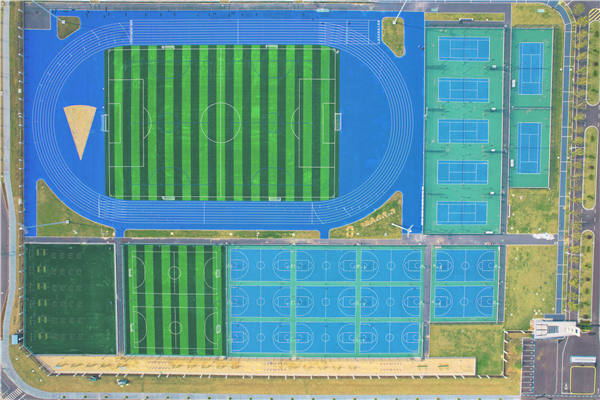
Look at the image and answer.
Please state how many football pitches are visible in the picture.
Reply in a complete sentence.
In total, 3 football pitches can be seen.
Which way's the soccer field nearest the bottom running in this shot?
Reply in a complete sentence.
I'd say the soccer field nearest the bottom is aligned from side to side in the picture.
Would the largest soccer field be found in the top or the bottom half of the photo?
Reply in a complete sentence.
You can find the largest soccer field in the top half.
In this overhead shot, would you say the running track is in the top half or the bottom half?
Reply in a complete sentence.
Seen from above, the running track lies in the top half of the view.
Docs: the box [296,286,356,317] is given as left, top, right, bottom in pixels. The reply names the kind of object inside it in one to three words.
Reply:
basketball court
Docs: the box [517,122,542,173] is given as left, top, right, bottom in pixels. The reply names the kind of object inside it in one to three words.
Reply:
tennis court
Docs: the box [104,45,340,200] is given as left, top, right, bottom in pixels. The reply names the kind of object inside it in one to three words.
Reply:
soccer field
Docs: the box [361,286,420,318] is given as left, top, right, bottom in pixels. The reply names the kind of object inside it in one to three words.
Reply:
basketball court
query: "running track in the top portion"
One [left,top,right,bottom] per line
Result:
[24,9,425,238]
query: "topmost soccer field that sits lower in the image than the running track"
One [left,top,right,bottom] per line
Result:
[130,249,220,297]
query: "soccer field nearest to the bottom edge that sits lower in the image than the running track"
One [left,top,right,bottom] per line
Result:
[131,303,220,351]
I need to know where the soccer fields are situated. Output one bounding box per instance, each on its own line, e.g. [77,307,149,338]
[131,303,220,351]
[104,45,340,200]
[130,249,220,297]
